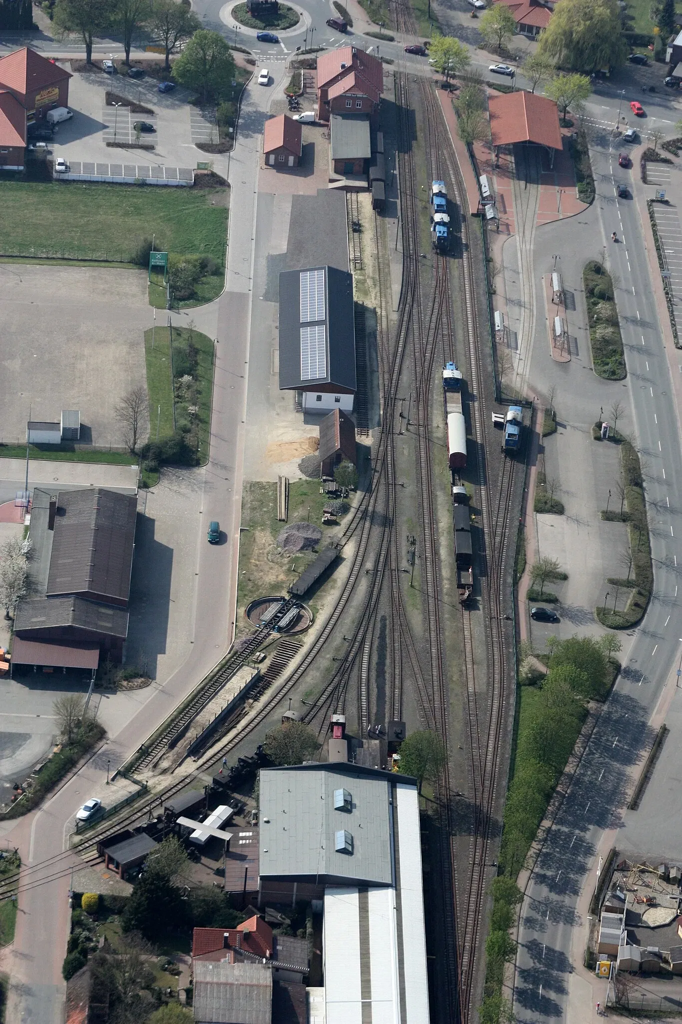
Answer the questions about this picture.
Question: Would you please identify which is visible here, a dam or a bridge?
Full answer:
Of the two, only a bridge appears.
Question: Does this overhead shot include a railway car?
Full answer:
Yes, looking at the shot, I can spot a railway car.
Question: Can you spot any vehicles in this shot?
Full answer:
Yes, there is a vehicle in the image.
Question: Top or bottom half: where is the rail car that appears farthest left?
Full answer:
It is in the bottom half that the rail car that appears farthest left appears.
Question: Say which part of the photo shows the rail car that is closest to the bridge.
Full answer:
The rail car that is closest to the bridge is in the center part of the image.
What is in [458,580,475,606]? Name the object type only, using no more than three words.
rail car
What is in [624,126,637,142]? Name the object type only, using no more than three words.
vehicle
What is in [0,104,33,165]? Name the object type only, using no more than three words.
building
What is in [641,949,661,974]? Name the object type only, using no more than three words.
shed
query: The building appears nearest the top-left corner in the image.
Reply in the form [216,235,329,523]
[0,45,73,112]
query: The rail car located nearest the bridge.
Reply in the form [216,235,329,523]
[283,540,340,600]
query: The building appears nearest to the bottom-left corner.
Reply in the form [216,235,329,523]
[66,971,109,1024]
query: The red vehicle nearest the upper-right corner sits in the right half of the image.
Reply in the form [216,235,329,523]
[631,104,644,116]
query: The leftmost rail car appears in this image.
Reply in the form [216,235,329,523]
[95,805,152,846]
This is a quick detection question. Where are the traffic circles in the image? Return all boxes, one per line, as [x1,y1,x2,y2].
[187,0,345,53]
